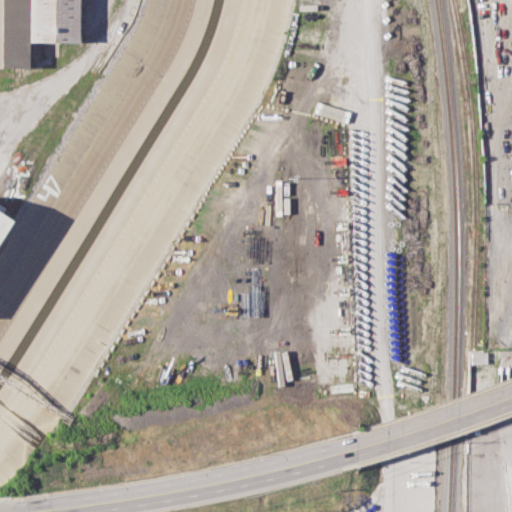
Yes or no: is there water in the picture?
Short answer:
Yes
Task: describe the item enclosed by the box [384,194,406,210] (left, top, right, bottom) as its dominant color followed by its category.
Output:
white vehicle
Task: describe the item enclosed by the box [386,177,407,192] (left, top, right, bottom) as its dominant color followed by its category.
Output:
white vehicle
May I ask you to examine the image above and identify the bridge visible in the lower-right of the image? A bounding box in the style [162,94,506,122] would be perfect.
[354,377,512,466]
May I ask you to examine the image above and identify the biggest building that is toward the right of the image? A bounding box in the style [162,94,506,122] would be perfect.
[314,104,352,125]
